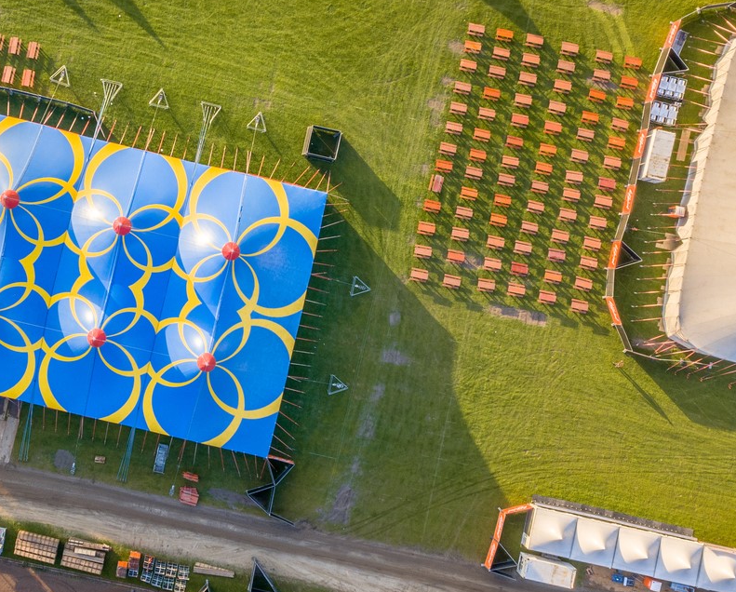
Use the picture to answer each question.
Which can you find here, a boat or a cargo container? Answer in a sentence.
Of the two, only a cargo container appears.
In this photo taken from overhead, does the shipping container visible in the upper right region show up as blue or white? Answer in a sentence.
In this view, the shipping container visible in the upper right region is white.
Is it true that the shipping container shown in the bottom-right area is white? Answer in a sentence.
Yes, the shipping container shown in the bottom-right area is white.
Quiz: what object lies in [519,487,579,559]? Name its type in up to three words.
tent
